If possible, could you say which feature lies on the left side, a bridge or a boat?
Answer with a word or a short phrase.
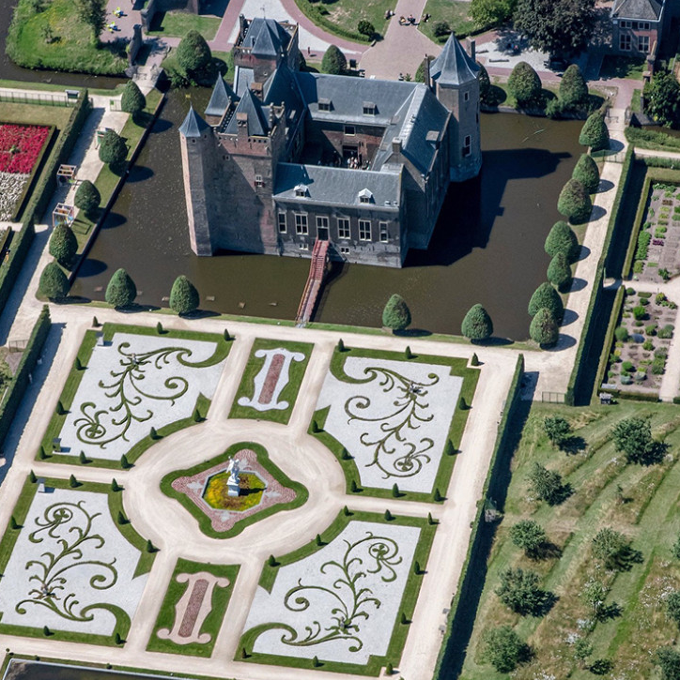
bridge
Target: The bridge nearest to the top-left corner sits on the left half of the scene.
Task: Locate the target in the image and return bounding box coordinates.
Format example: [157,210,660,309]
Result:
[130,61,165,94]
